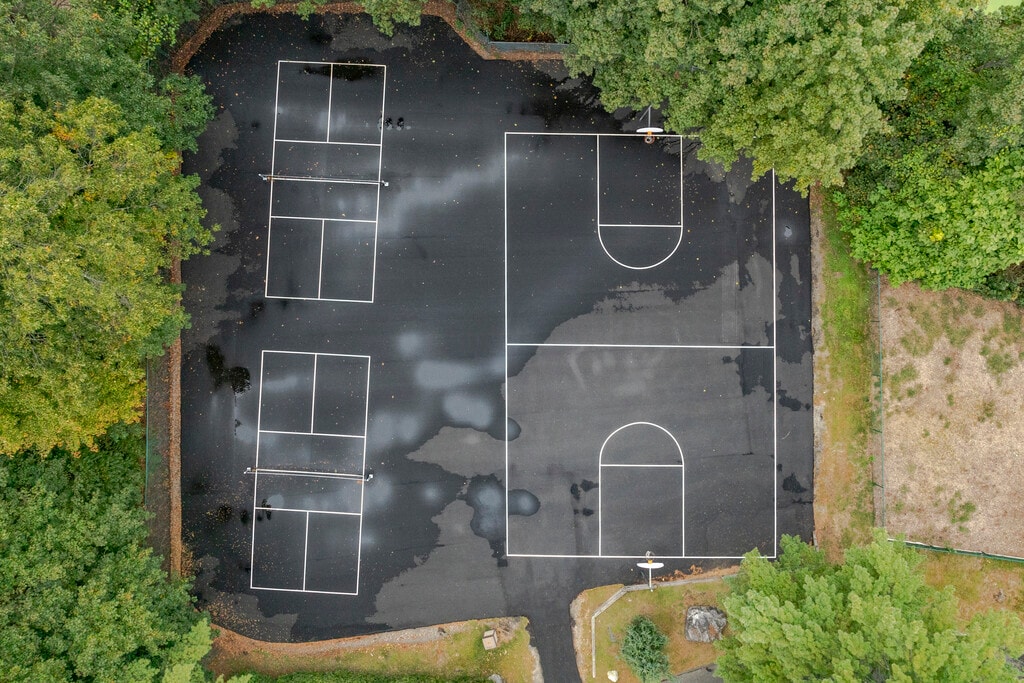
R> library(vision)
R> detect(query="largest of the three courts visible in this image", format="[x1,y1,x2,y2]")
[505,131,777,558]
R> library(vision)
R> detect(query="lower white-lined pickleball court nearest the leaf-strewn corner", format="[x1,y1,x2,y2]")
[250,350,371,595]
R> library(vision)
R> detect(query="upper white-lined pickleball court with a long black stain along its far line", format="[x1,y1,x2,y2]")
[265,61,386,303]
